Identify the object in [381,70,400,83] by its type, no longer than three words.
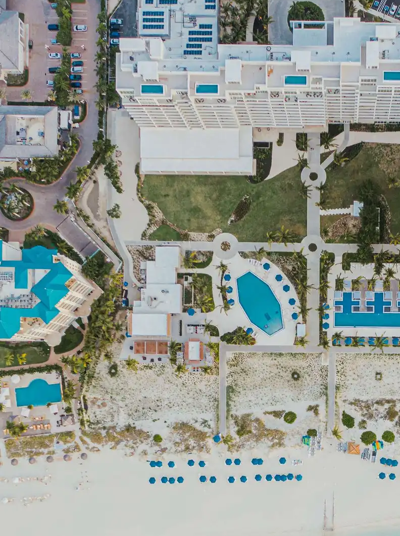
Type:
swimming pool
